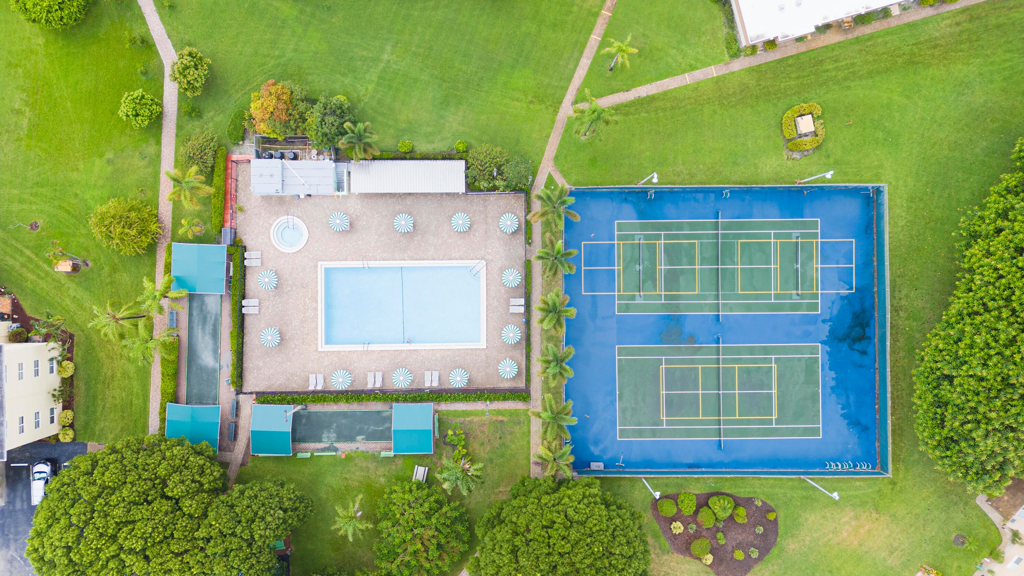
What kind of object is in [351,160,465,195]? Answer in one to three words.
building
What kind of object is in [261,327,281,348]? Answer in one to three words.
umbrella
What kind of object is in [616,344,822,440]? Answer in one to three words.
tennis court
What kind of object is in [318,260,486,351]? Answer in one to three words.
swimming pool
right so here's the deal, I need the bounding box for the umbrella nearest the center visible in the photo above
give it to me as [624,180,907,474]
[501,268,521,288]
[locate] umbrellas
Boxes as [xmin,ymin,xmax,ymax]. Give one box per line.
[498,359,518,379]
[329,212,350,232]
[261,327,281,348]
[392,368,412,388]
[501,324,521,345]
[258,270,278,290]
[499,213,519,234]
[449,368,469,388]
[451,212,471,232]
[394,213,414,233]
[331,369,351,389]
[501,268,521,288]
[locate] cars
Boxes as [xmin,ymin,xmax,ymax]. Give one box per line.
[29,459,54,505]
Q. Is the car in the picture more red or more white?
white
